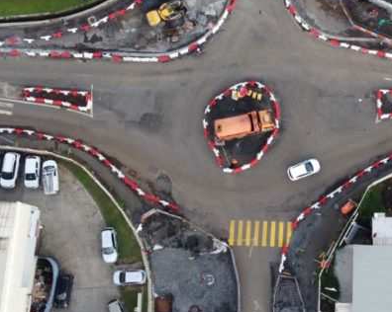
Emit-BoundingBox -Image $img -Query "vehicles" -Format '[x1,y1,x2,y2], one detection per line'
[0,152,21,188]
[112,269,146,286]
[287,160,320,180]
[40,158,60,198]
[54,272,77,311]
[106,300,125,312]
[211,106,274,145]
[145,0,197,26]
[100,227,119,266]
[23,157,41,188]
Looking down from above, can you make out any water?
No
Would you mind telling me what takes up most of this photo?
paved ground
